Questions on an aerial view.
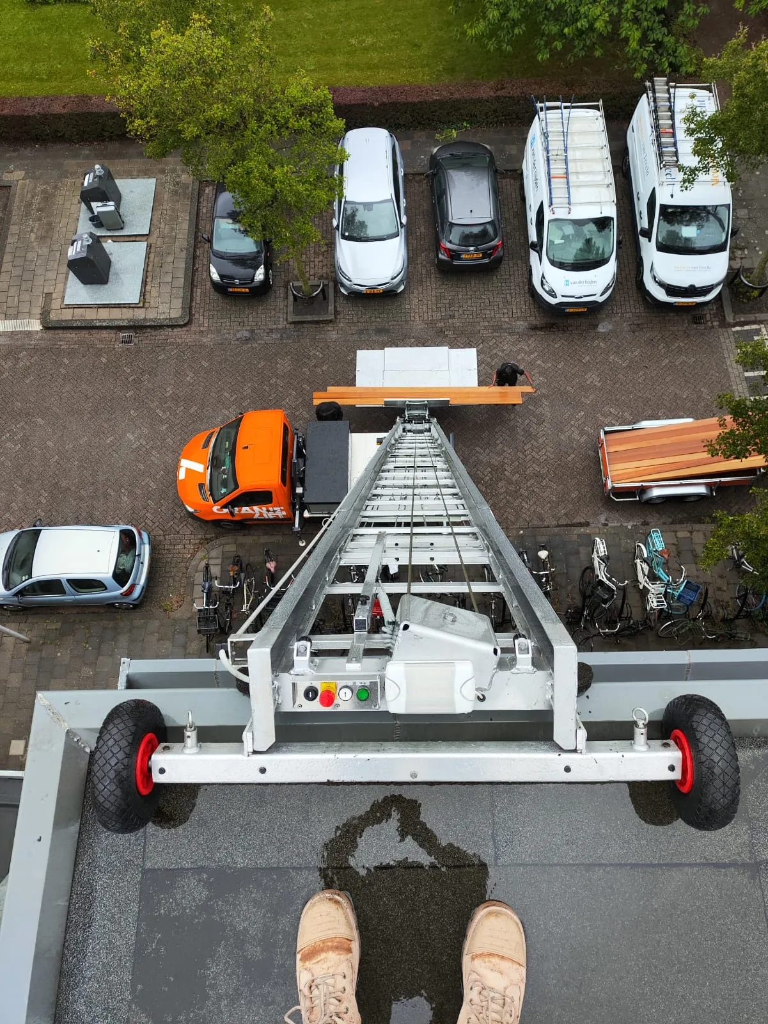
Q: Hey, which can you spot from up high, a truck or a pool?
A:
truck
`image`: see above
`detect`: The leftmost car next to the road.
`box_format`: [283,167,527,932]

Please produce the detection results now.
[0,511,155,604]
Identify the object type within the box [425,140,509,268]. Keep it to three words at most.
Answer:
car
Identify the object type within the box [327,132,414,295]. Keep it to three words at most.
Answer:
car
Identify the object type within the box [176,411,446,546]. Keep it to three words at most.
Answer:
truck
